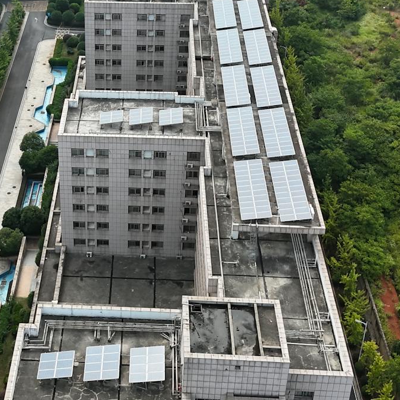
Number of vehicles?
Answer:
0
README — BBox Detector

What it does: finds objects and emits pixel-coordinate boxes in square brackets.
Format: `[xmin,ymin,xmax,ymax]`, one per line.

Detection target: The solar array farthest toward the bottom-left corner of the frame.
[38,352,74,388]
